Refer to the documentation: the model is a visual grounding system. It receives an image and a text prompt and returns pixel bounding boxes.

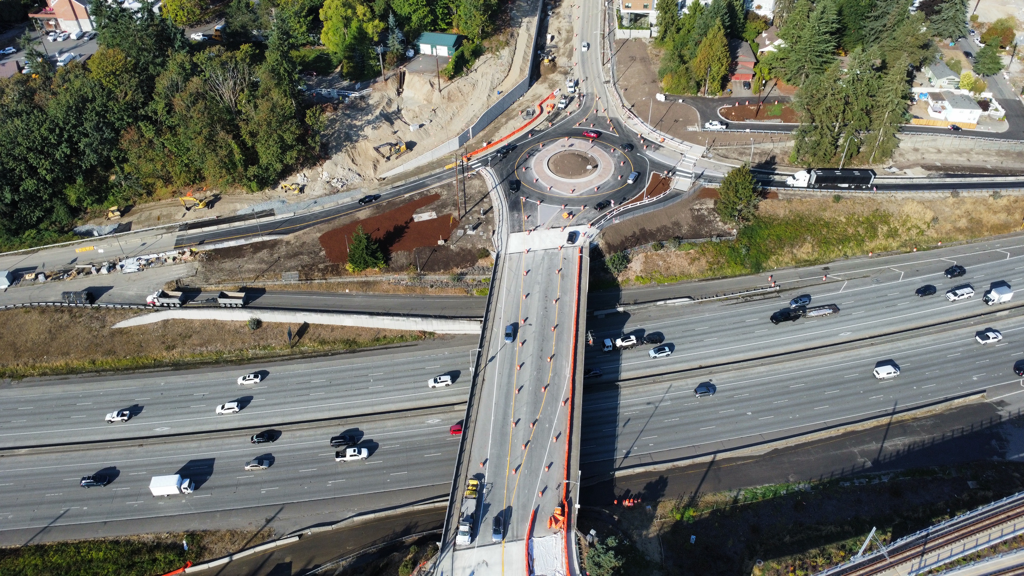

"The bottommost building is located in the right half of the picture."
[926,90,986,122]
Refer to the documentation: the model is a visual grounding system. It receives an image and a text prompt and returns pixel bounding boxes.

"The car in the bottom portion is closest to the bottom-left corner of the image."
[79,475,110,490]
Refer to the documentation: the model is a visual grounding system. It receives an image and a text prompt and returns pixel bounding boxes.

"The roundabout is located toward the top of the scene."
[516,137,633,197]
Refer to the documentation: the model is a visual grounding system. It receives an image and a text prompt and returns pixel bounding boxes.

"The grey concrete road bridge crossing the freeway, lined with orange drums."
[441,242,588,557]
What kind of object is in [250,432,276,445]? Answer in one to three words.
vehicle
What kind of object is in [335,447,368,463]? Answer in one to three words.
vehicle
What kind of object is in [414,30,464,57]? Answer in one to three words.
shed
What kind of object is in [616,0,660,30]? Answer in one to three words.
building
